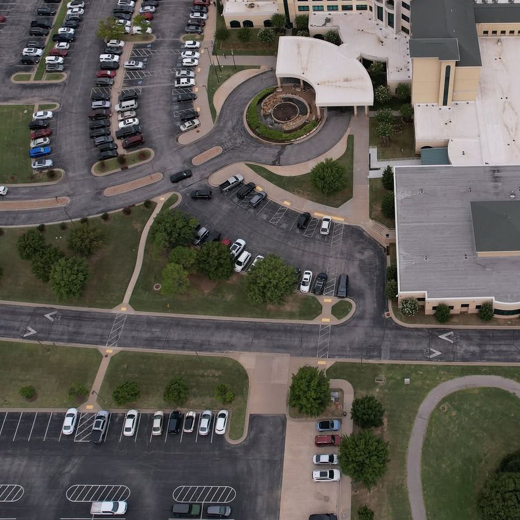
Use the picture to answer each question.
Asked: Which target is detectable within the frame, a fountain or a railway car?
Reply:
fountain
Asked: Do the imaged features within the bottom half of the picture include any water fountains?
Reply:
No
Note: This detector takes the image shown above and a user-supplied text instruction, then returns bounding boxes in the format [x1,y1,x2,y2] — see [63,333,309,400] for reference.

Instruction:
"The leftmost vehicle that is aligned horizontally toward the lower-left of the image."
[90,499,127,516]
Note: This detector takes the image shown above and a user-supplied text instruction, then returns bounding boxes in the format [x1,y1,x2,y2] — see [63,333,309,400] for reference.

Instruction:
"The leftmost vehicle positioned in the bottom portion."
[61,409,79,436]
